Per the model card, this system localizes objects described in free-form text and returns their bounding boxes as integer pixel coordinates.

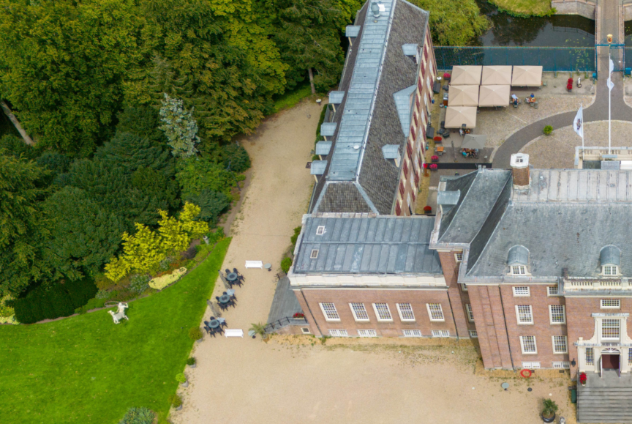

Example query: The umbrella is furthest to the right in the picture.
[511,66,542,93]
